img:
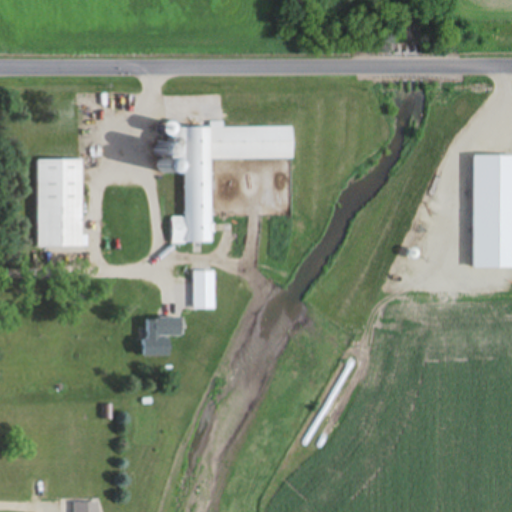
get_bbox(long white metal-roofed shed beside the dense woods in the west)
[35,158,88,247]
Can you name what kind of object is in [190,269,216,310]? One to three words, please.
shed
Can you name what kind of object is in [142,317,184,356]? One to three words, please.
house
